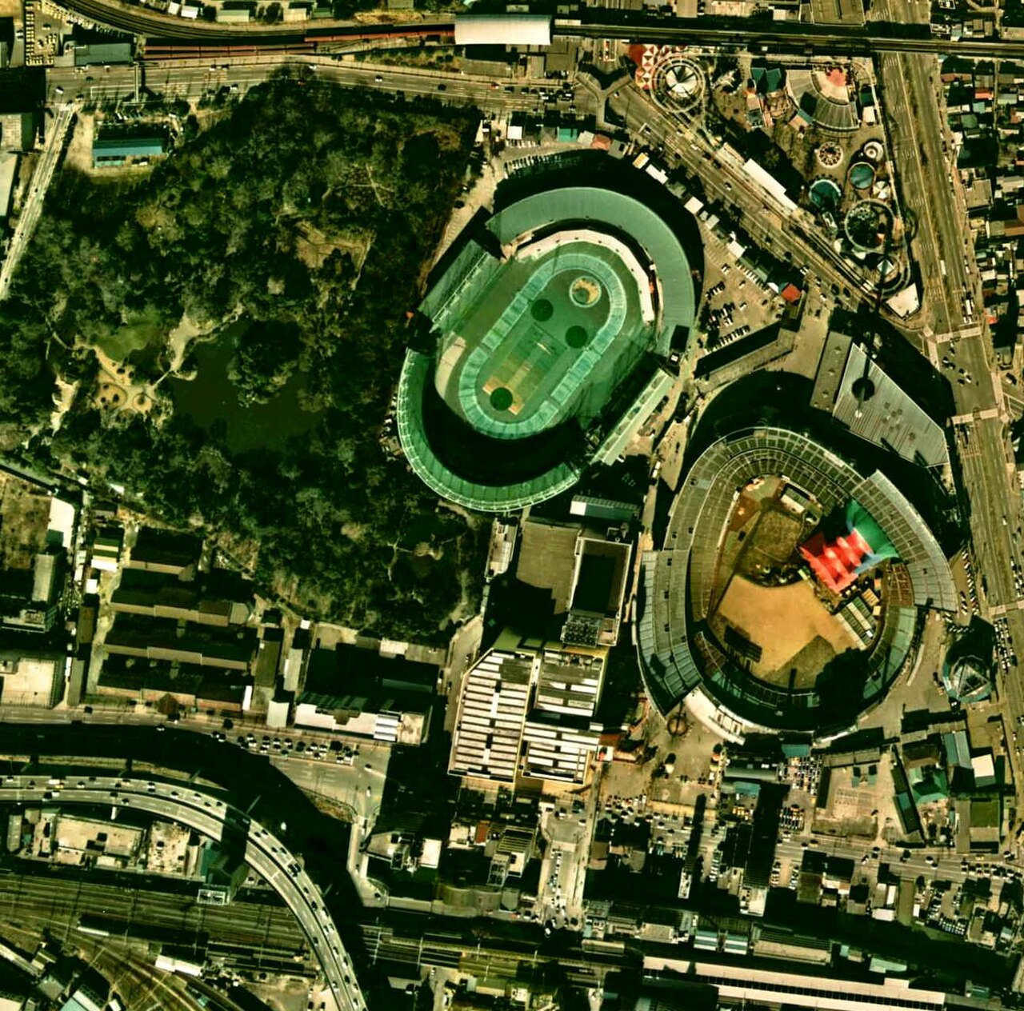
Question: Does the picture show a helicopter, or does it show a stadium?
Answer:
stadium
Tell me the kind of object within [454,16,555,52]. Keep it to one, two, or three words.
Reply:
shed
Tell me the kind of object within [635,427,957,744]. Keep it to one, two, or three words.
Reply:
stadium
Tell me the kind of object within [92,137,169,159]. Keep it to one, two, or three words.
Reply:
house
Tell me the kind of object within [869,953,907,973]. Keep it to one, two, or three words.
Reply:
building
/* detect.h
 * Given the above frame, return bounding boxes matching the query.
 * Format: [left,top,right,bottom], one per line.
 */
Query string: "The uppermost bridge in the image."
[552,24,1024,60]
